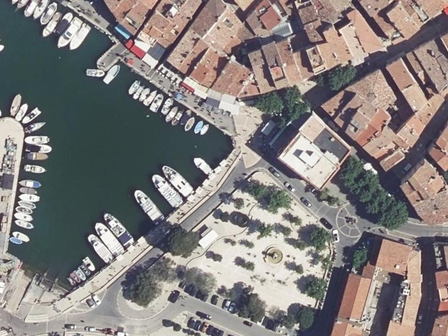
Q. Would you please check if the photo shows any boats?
Yes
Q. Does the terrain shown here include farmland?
No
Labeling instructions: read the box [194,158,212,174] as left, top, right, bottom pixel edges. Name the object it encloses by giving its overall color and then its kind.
white boat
